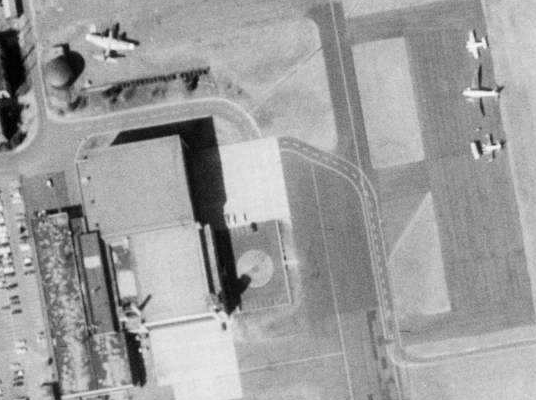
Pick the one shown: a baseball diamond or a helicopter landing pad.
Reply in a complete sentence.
There is a helicopter landing pad in the scene.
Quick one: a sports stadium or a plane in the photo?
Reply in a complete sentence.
There is a plane in the scene.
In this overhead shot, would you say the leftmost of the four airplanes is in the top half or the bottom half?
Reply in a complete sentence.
The top half of the photo is where the leftmost of the four airplanes is.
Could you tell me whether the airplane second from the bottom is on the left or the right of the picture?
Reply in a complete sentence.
The airplane second from the bottom appears in the right half of the scene.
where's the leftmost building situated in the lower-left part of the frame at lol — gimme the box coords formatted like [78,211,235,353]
[33,213,139,400]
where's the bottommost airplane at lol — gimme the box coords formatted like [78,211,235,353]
[480,135,499,161]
